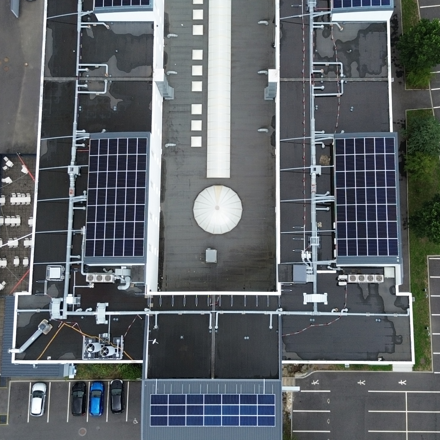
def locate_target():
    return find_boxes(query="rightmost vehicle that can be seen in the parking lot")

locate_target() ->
[109,379,126,413]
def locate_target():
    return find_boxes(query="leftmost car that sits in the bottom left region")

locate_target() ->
[30,383,48,417]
